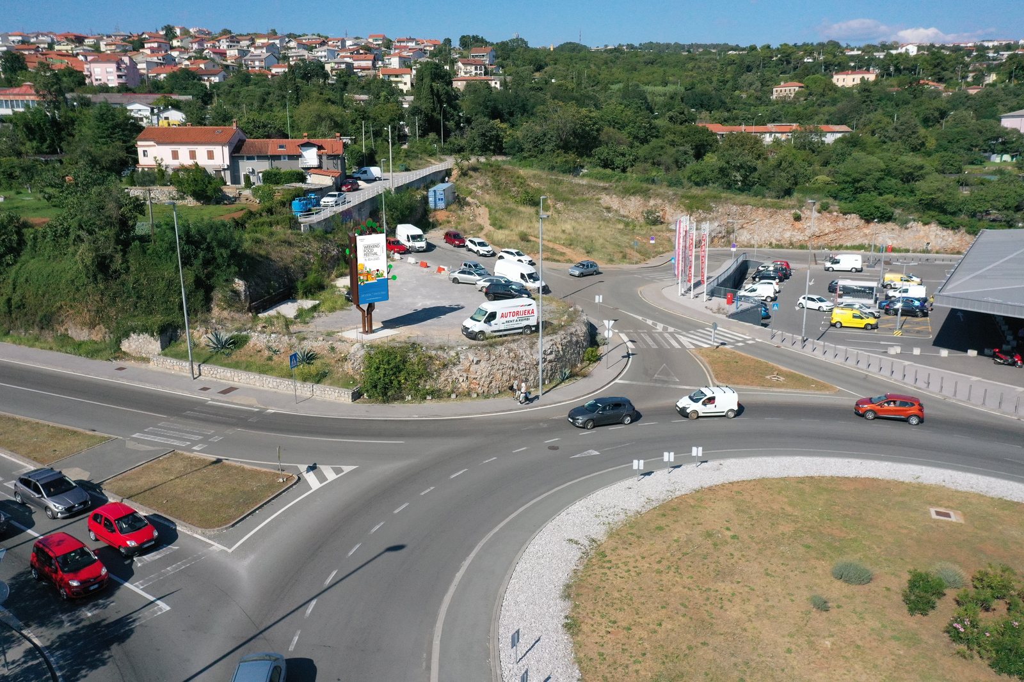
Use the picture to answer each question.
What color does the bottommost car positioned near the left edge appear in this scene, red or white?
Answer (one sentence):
The bottommost car positioned near the left edge looks red in the image.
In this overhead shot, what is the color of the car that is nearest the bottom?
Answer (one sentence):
The color of the car that is nearest the bottom is blue.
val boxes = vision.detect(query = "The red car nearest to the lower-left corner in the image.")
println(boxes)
[31,531,104,592]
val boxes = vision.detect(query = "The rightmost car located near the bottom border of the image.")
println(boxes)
[229,649,288,682]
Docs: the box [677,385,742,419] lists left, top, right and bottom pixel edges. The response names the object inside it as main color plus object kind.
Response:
white van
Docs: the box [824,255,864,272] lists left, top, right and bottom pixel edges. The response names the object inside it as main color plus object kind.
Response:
white vehicle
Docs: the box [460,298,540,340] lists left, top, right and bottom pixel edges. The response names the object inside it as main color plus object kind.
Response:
white van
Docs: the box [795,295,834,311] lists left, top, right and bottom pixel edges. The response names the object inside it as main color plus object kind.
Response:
white car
